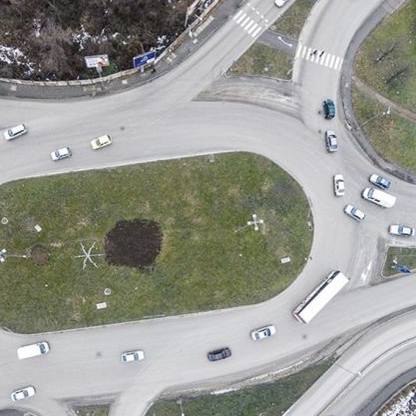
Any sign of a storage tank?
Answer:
No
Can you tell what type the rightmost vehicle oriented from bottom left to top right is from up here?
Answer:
bus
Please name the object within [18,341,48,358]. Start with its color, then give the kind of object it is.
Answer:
white vehicle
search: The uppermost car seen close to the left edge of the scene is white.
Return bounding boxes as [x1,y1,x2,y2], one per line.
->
[4,124,28,140]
